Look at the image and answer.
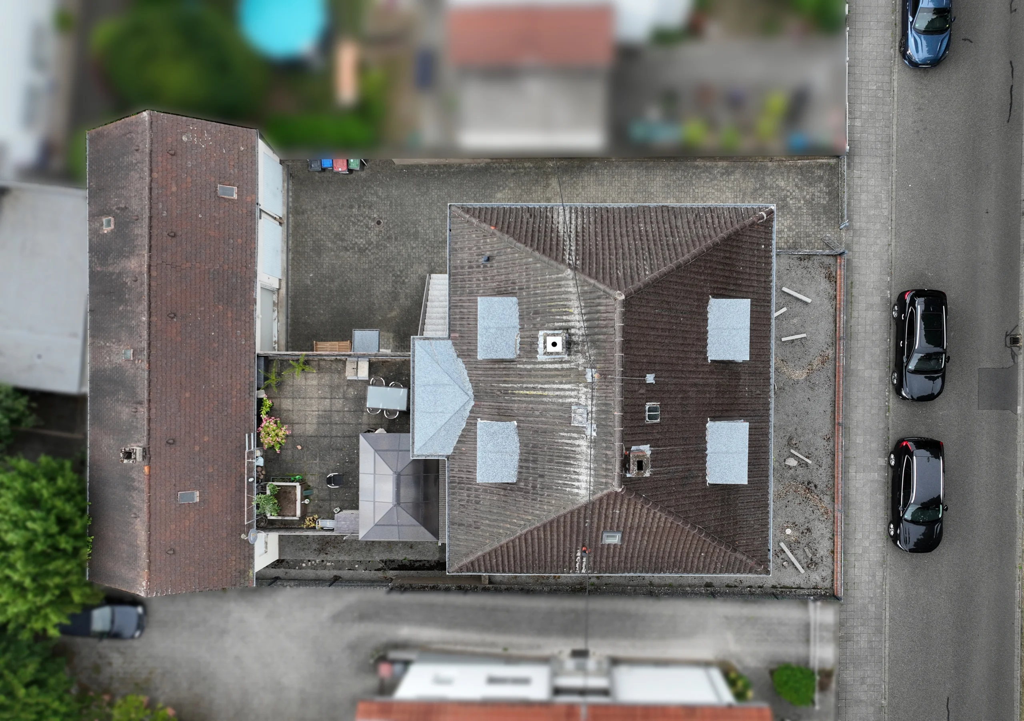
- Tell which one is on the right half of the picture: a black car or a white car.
black car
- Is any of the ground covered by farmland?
No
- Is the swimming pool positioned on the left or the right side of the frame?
left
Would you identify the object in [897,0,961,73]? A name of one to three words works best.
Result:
car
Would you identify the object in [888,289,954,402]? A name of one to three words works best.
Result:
car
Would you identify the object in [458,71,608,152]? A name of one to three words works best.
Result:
building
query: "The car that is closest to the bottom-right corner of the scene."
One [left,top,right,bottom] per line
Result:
[886,436,951,554]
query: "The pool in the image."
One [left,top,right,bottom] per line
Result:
[236,0,337,73]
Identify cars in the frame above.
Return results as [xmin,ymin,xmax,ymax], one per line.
[28,595,142,653]
[886,436,951,554]
[888,289,954,402]
[897,0,961,73]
